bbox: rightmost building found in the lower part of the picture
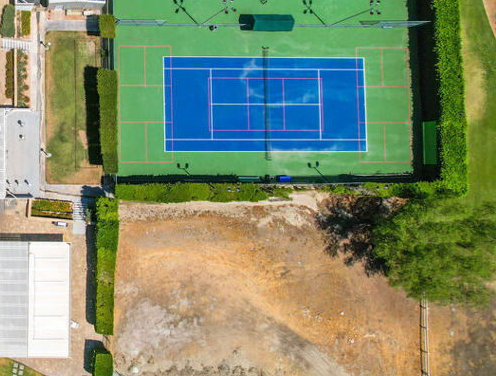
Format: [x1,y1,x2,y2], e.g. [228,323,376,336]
[27,239,70,358]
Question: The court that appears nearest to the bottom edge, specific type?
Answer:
tennis court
